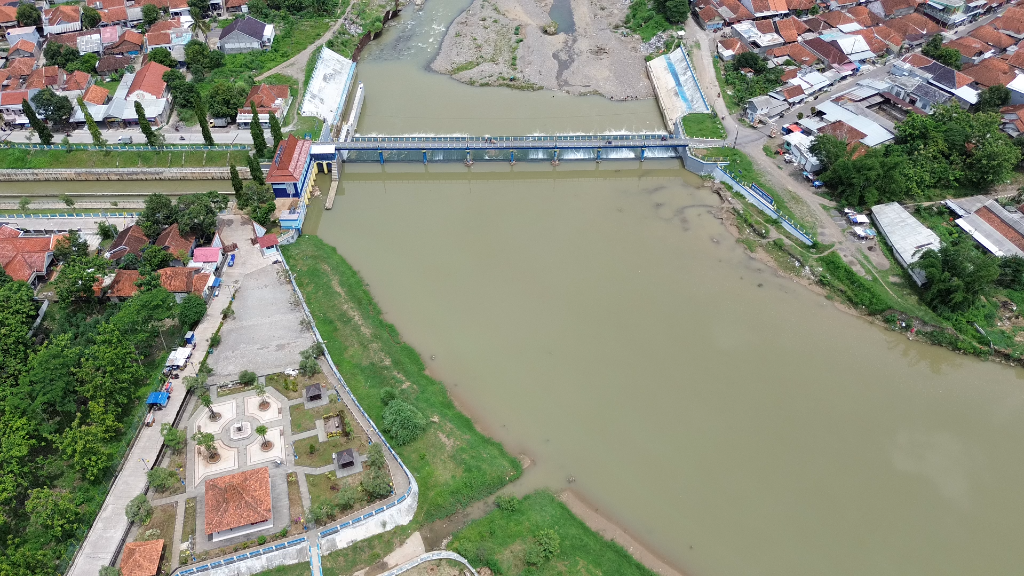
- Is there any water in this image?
Yes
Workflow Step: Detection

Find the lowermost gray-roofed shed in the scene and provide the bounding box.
[334,446,357,474]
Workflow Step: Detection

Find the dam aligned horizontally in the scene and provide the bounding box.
[339,133,680,161]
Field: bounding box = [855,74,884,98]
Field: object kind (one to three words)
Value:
house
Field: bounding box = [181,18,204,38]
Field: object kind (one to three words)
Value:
house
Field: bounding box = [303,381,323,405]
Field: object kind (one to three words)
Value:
shed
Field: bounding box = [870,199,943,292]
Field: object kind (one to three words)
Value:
building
